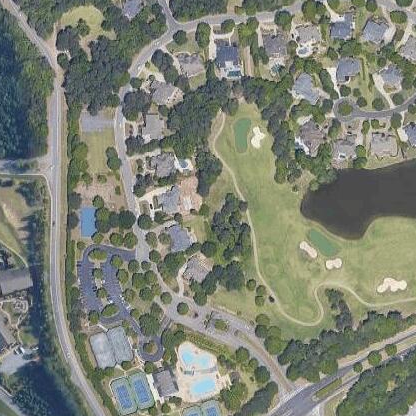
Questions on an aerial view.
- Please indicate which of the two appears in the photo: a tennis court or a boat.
tennis court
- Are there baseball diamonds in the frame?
No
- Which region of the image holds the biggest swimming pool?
bottom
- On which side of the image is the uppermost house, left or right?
left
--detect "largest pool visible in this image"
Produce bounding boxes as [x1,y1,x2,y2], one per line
[176,341,231,401]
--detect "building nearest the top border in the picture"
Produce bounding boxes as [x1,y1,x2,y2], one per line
[121,0,142,20]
